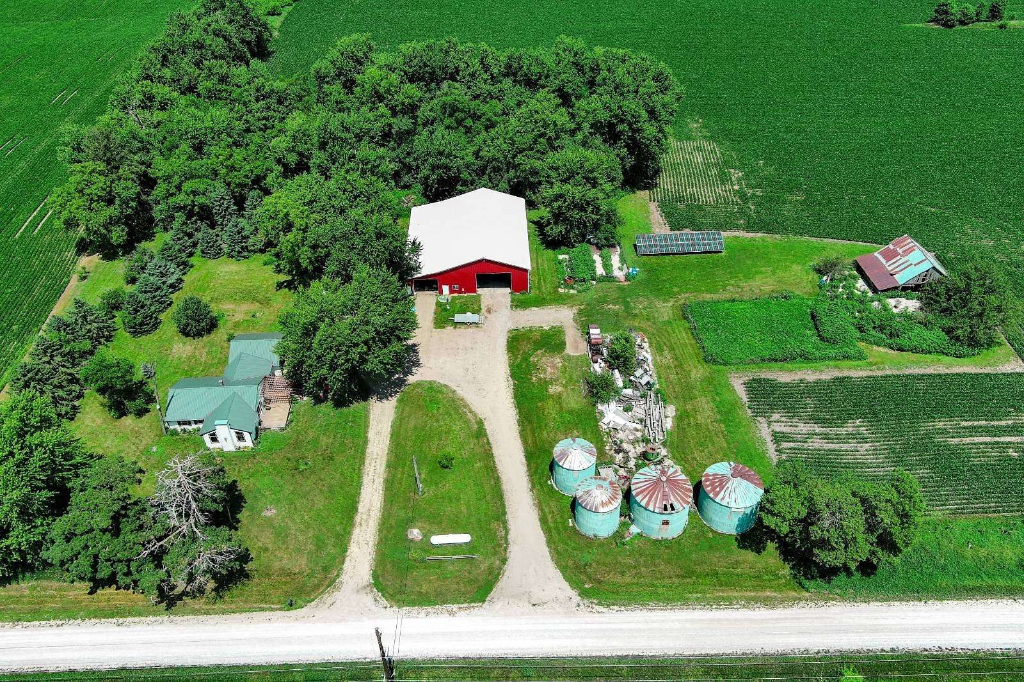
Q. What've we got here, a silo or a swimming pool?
silo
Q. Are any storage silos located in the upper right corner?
No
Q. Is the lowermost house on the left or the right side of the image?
left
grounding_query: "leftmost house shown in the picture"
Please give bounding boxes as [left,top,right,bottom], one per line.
[165,332,297,449]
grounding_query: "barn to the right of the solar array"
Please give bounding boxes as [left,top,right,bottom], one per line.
[855,234,949,302]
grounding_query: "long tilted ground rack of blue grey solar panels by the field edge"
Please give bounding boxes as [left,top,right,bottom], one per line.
[635,232,724,256]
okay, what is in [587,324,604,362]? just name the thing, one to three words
vehicle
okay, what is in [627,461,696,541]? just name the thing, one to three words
silo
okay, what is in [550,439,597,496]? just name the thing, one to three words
silo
